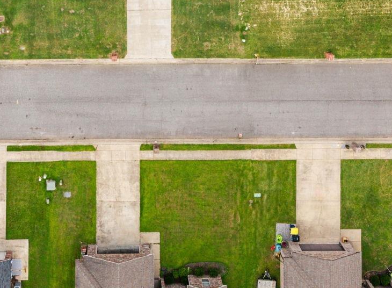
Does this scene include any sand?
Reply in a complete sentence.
No, there's no sand in this view.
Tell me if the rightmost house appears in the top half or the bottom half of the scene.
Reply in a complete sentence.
The bottom half of the photo is where the rightmost house is.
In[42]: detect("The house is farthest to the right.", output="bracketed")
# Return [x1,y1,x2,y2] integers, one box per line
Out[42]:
[281,242,362,288]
